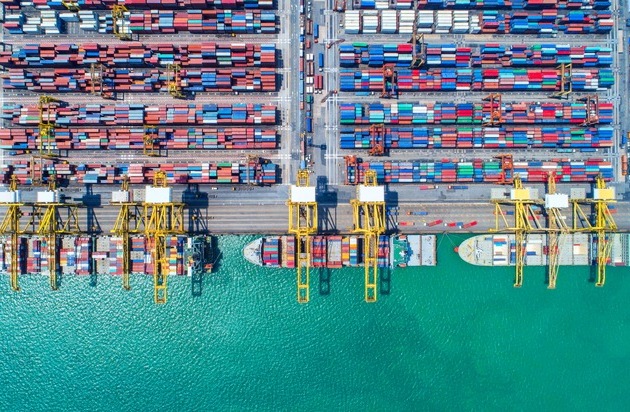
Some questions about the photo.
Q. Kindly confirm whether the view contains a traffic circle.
No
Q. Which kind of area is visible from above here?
port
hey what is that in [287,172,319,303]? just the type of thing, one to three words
container crane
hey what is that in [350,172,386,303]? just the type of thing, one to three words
container crane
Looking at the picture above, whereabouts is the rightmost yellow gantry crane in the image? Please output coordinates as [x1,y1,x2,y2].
[564,172,618,290]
